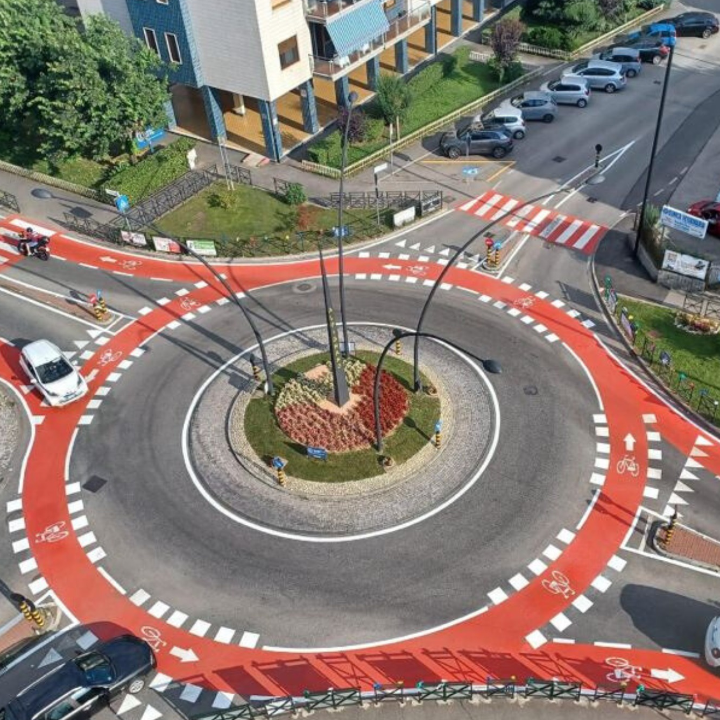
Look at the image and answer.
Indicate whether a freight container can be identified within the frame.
No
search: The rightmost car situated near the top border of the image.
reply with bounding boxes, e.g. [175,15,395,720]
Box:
[660,8,720,38]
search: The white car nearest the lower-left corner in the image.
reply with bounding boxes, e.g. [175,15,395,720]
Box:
[14,324,85,397]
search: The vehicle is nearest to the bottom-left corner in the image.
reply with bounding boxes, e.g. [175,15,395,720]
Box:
[0,633,162,720]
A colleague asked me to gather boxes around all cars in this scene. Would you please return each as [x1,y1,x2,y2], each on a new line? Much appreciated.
[611,31,670,64]
[0,633,162,720]
[620,17,683,49]
[687,203,720,235]
[494,87,563,123]
[549,56,627,93]
[660,8,720,38]
[437,117,516,158]
[14,324,85,397]
[461,103,534,139]
[534,72,594,107]
[586,42,643,76]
